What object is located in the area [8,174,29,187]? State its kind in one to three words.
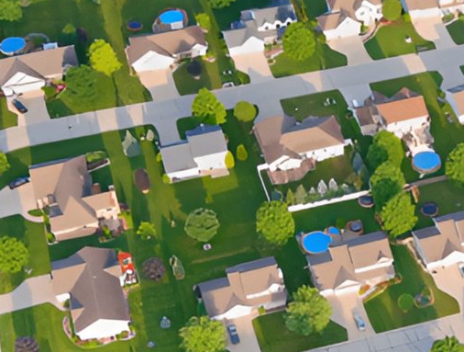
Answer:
vehicle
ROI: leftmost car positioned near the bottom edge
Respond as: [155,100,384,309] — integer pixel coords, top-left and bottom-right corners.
[226,322,239,343]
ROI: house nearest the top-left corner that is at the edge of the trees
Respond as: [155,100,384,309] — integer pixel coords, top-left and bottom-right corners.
[0,47,78,96]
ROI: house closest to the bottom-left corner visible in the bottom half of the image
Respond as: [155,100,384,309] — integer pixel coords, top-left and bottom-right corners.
[52,247,129,342]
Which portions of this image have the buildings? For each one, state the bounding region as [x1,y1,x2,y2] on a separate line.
[0,47,78,96]
[310,0,391,48]
[158,126,230,183]
[26,156,124,249]
[126,25,211,77]
[222,1,304,64]
[407,213,464,274]
[199,258,289,324]
[307,234,401,299]
[401,0,464,23]
[52,247,129,342]
[247,115,348,173]
[349,81,434,138]
[441,85,464,128]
